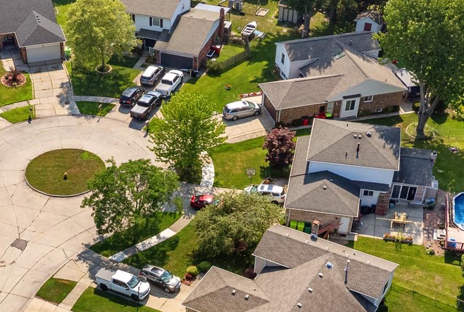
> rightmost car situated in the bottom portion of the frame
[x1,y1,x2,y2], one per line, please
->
[244,183,285,204]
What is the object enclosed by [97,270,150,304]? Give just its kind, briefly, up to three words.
truck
